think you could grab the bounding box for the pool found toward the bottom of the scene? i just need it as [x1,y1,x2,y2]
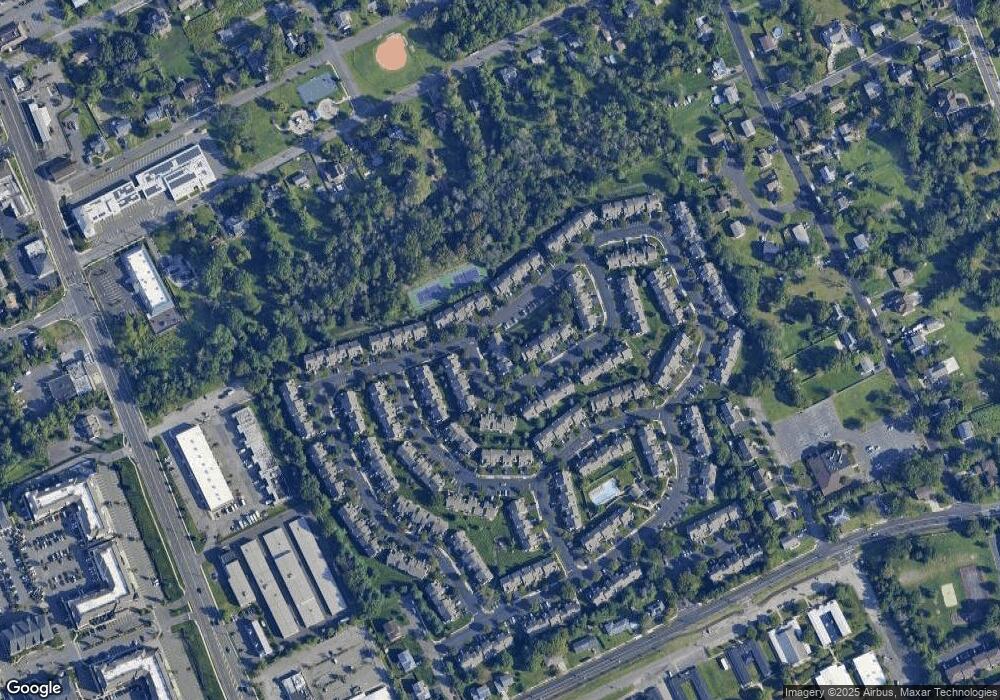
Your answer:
[589,477,622,507]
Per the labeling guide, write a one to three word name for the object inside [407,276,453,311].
tennis court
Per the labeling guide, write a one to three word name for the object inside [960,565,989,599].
basketball court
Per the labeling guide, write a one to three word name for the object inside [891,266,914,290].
house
